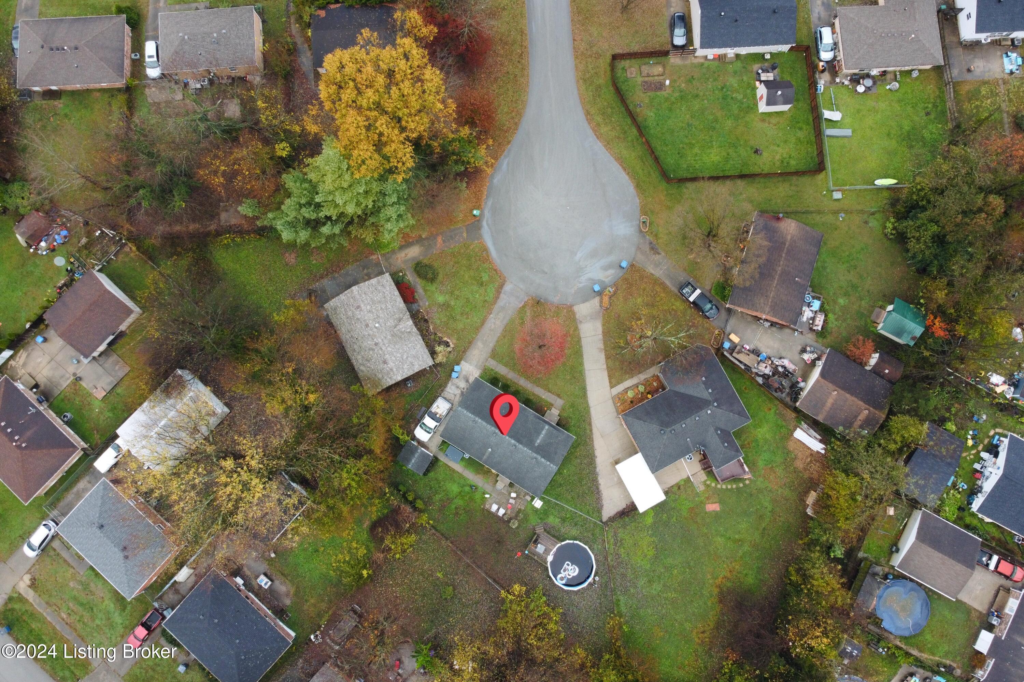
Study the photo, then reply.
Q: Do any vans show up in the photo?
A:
Yes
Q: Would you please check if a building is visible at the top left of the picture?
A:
Yes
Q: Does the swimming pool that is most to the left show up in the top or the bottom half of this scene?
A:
bottom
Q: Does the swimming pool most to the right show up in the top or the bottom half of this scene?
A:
bottom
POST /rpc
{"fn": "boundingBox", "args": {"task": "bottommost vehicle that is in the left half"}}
[125,602,166,652]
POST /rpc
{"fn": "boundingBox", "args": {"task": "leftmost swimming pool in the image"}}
[546,539,595,589]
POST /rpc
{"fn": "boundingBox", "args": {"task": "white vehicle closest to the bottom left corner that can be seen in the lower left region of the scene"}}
[23,516,61,560]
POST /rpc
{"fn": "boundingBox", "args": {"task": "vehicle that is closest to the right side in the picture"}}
[981,546,1024,584]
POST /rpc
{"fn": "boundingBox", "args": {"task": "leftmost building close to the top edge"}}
[18,15,136,95]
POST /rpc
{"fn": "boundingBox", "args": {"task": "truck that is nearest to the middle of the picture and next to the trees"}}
[413,393,456,445]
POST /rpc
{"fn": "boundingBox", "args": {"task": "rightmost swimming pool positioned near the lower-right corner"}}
[872,579,930,636]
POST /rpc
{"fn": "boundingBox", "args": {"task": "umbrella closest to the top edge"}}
[822,89,841,122]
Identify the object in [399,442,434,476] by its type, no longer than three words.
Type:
shed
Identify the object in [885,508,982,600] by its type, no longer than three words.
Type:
building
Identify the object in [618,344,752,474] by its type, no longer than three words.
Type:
house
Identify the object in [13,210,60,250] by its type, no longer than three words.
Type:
shed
